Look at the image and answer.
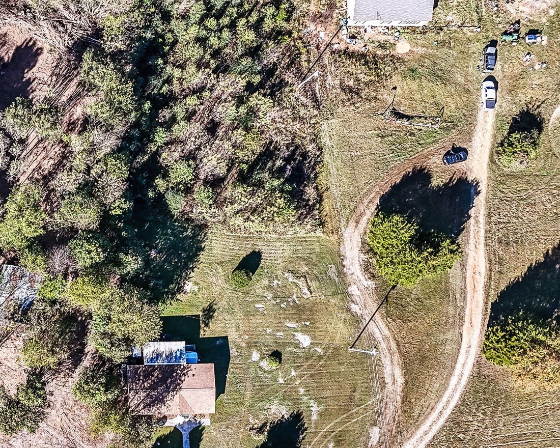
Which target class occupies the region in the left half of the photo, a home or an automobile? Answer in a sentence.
It is a home that can be seen in the left half of the photo.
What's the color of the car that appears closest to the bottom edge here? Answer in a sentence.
From above, the car that appears closest to the bottom edge appears blue.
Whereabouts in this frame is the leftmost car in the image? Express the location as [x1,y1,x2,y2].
[440,146,467,166]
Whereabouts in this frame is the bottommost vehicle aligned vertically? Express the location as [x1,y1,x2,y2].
[480,78,496,112]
